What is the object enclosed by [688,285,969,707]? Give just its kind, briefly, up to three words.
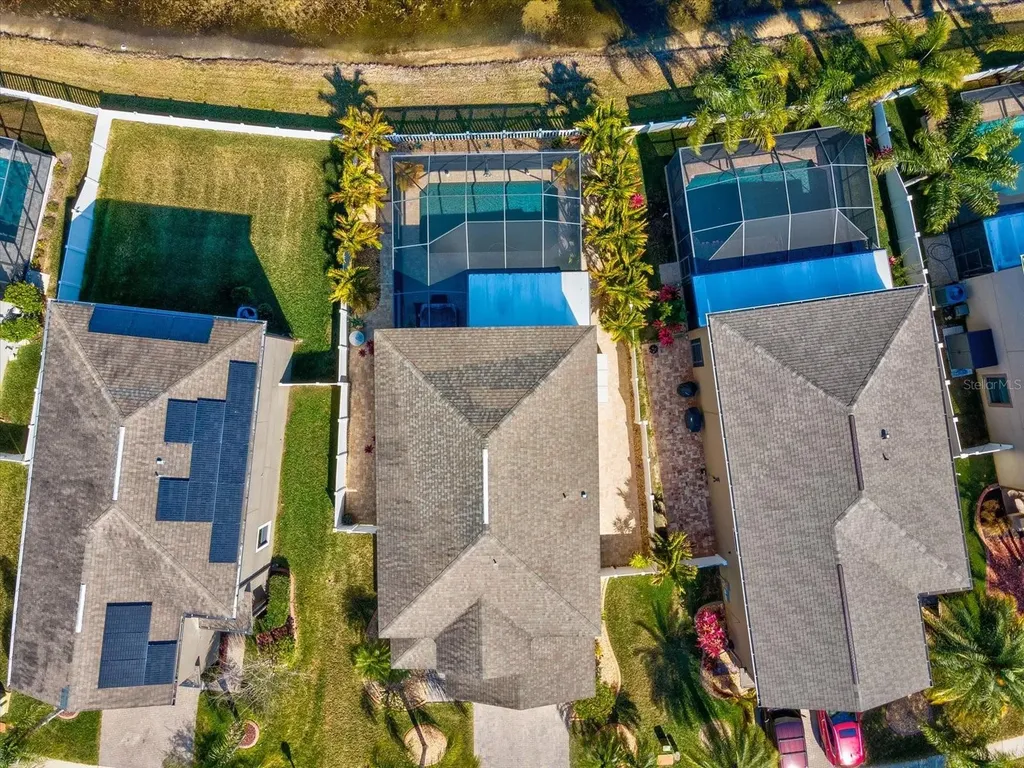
house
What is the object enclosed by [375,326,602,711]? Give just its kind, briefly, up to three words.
house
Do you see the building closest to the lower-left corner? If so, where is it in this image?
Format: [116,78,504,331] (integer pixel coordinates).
[8,300,293,710]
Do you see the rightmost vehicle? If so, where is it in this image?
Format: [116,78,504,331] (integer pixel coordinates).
[815,706,859,767]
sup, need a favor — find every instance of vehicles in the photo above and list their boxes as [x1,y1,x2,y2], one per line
[815,706,859,767]
[765,704,808,768]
